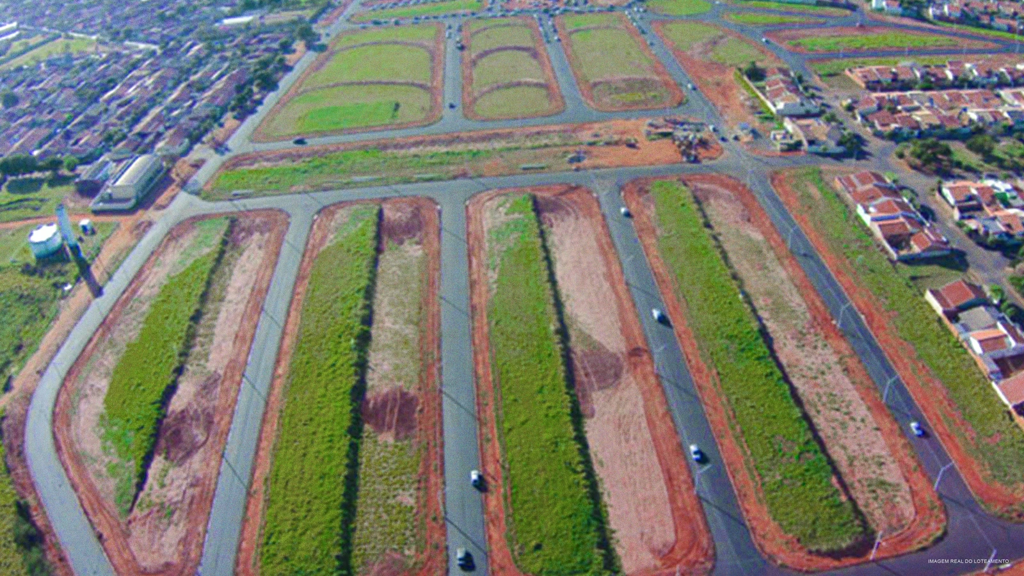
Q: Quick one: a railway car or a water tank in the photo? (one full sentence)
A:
Of the two, only a water tank appears.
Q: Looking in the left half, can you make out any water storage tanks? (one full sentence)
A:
Yes, a water storage tank shows up in the left half.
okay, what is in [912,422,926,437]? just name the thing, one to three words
car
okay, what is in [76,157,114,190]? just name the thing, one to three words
shed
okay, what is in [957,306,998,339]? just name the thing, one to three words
house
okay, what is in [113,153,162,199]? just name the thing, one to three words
building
